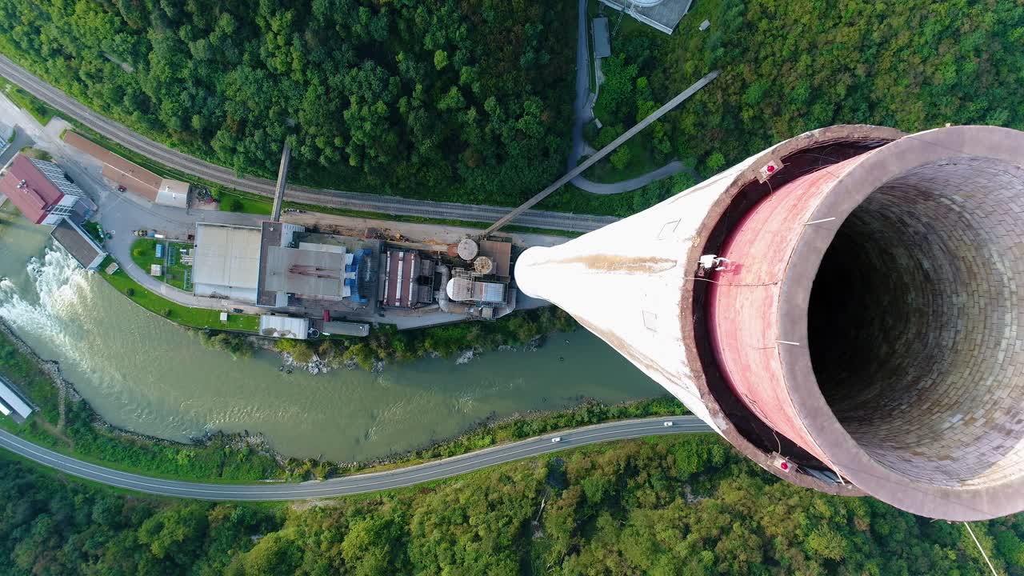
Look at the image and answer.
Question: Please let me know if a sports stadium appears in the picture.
No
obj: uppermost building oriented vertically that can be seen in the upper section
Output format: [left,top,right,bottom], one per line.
[592,17,611,60]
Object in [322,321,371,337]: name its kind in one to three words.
building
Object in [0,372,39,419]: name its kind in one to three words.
building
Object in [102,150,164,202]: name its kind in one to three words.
shed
